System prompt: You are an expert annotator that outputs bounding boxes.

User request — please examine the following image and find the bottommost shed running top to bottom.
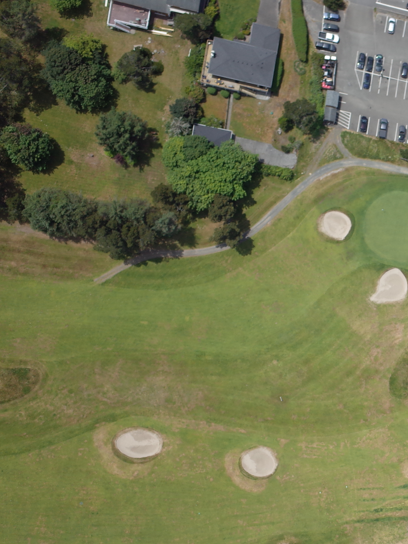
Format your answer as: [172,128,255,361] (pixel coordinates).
[324,90,340,123]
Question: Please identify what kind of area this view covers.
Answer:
golf course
